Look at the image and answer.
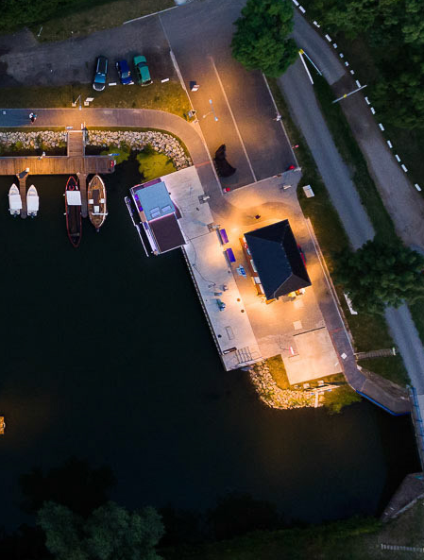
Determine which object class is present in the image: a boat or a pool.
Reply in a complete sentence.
Visible in the photo is a boat.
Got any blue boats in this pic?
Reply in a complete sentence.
No, no blue boat is visible in the view.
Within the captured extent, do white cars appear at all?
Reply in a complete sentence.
No, the picture doesn't show any white car.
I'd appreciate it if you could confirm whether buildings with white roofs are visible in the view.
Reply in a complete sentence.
No, this view has no building with a white roof in it.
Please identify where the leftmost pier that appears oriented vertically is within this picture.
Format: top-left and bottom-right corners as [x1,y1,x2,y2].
[13,175,30,218]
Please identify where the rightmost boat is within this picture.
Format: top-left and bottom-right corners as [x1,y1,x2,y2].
[89,172,107,233]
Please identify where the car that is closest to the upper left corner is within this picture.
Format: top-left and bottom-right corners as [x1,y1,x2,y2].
[91,55,108,91]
